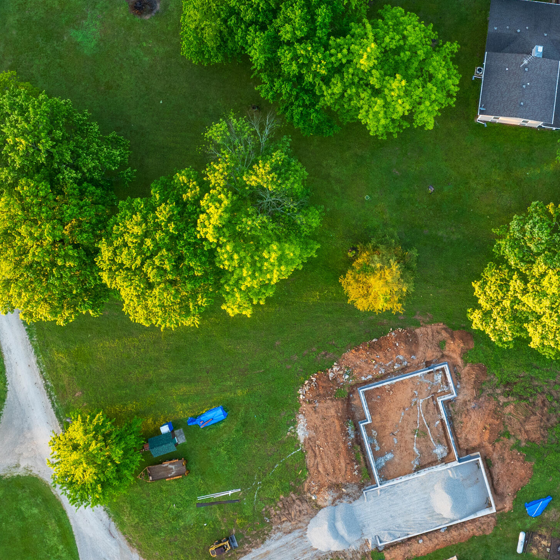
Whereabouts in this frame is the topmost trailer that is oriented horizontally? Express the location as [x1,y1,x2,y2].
[135,458,190,483]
